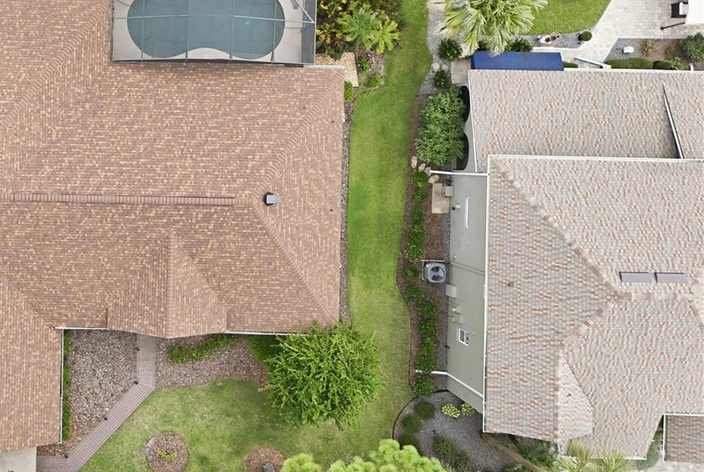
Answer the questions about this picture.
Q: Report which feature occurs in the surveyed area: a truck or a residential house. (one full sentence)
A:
It is a residential house that can be seen here.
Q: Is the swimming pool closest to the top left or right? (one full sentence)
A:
You can find the swimming pool closest to the top on the left side of the picture.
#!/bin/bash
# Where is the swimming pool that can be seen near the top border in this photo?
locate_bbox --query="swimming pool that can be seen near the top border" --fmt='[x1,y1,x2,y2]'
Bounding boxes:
[115,0,299,62]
